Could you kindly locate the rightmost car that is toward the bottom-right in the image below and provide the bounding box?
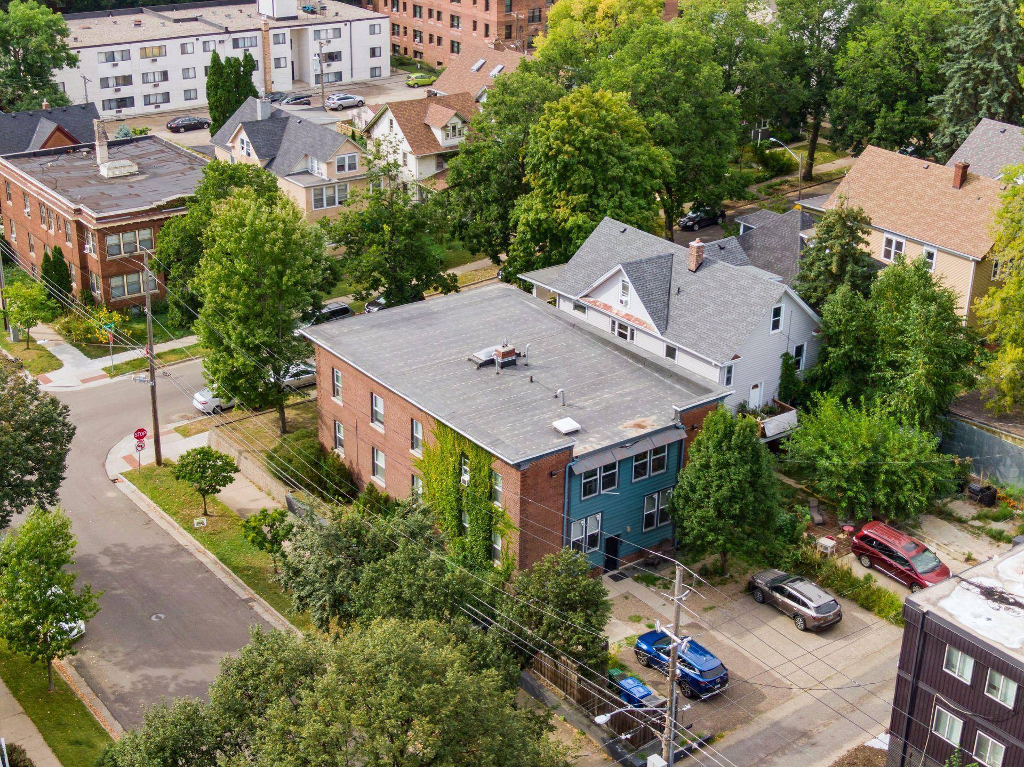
[852,522,957,593]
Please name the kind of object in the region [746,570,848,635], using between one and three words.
car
